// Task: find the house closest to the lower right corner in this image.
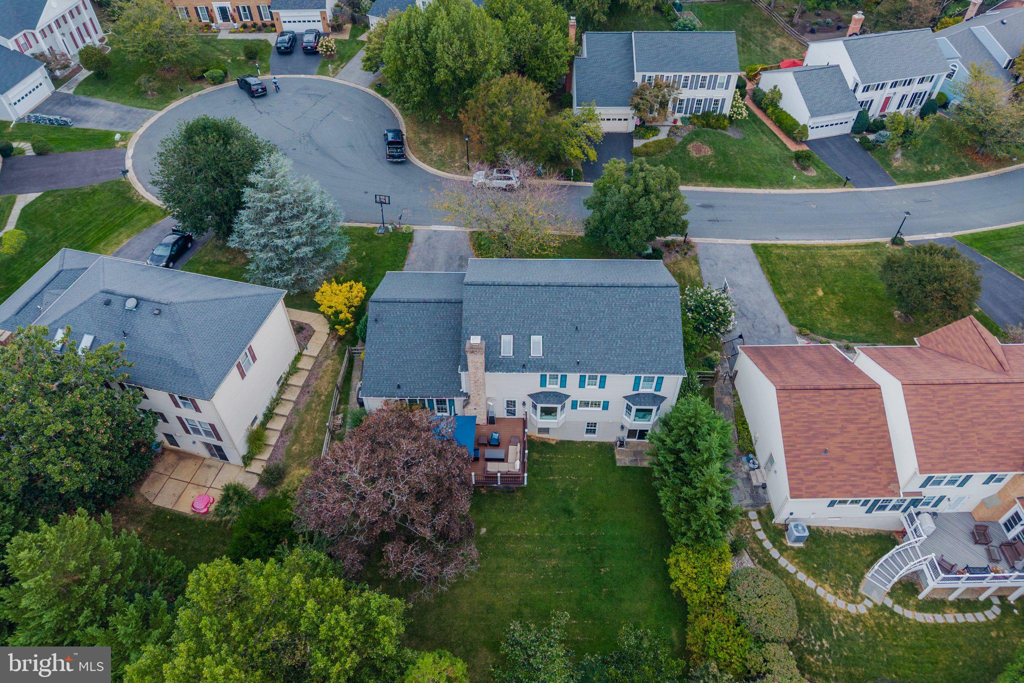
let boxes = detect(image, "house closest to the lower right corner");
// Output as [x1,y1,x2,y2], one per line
[739,306,1024,539]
